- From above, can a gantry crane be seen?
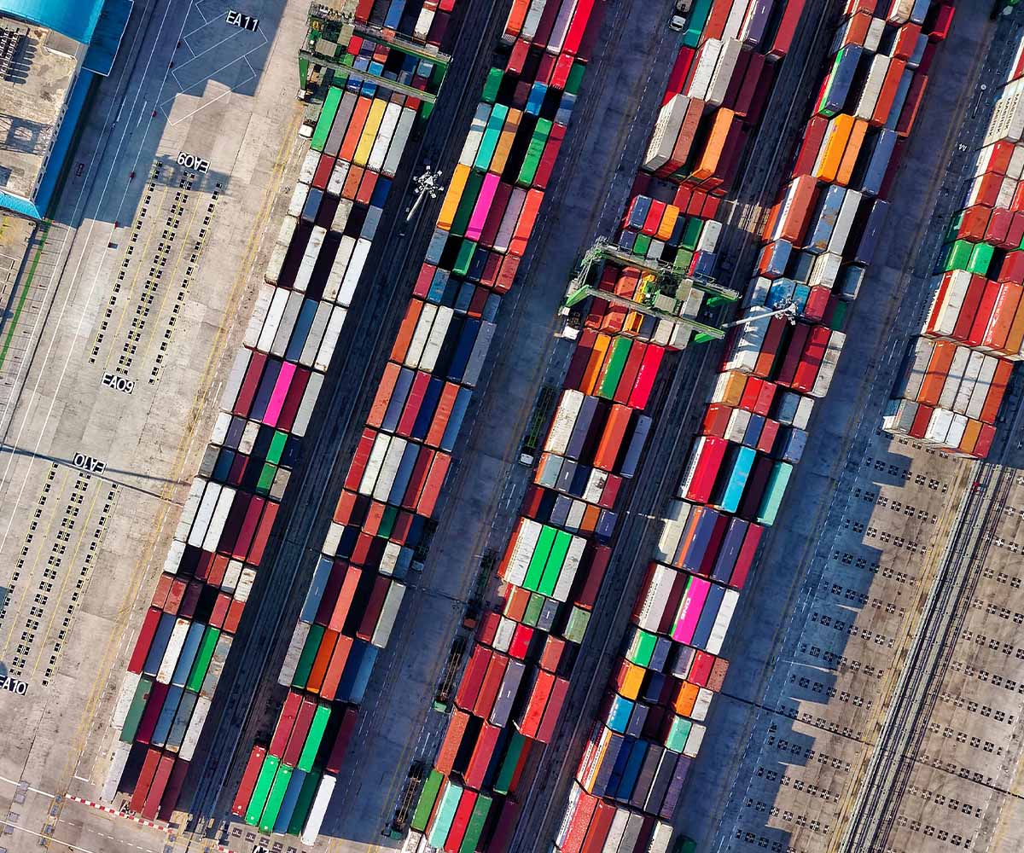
Yes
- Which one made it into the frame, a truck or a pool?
truck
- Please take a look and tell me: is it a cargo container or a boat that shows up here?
cargo container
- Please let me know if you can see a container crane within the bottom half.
No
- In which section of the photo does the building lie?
top left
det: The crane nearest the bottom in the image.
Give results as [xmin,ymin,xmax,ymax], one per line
[555,236,751,352]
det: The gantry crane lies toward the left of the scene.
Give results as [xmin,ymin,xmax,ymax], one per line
[288,1,461,138]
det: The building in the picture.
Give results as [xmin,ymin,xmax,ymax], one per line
[0,0,135,220]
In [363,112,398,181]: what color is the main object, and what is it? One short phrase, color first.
white shipping container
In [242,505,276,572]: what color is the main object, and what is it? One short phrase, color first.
red shipping container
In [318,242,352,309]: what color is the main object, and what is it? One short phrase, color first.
white shipping container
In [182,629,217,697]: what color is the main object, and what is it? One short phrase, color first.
green shipping container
